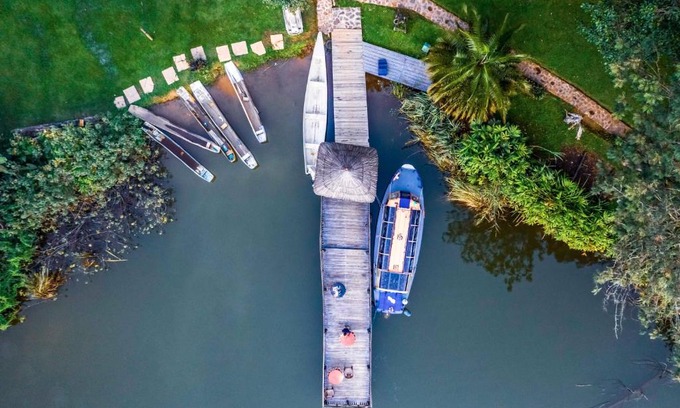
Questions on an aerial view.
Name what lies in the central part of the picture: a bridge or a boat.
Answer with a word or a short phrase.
boat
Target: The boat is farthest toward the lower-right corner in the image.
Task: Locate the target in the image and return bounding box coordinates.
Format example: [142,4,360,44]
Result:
[374,163,424,318]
